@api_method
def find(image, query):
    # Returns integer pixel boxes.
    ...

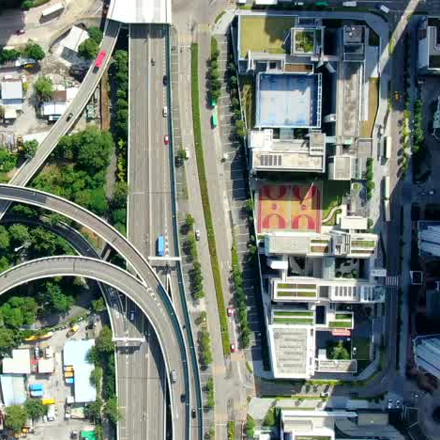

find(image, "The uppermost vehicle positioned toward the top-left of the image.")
[42,2,63,18]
